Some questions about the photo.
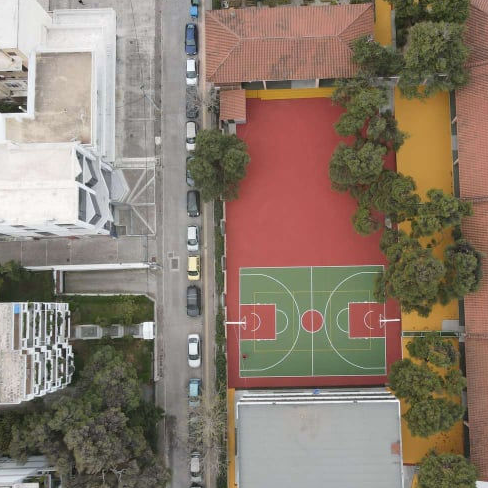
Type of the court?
basketball court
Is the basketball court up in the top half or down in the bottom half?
bottom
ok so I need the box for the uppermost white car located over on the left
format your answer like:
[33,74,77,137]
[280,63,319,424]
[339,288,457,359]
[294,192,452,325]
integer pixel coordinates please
[183,59,198,87]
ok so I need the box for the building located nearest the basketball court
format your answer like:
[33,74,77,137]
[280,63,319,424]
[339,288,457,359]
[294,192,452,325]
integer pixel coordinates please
[235,389,403,488]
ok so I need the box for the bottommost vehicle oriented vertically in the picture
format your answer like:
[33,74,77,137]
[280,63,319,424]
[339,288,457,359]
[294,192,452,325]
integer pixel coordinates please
[187,447,203,482]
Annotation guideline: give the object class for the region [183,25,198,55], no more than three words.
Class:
car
